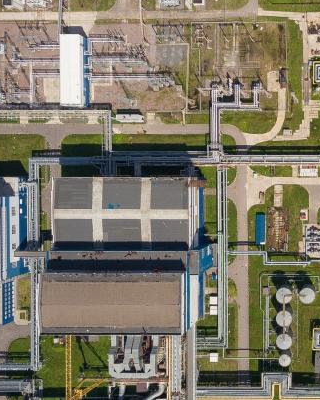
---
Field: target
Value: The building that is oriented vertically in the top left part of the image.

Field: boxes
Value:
[60,34,91,108]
